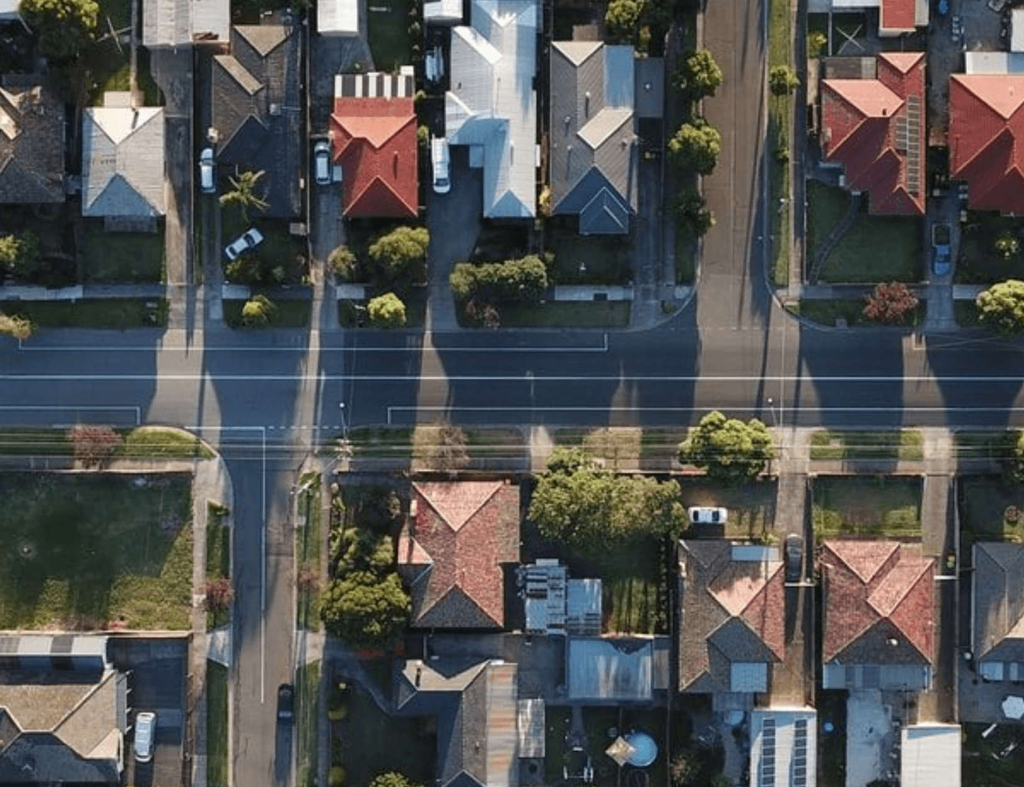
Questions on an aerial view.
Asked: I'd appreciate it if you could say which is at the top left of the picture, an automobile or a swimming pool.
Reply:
automobile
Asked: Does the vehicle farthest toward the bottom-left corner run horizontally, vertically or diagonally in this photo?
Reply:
vertically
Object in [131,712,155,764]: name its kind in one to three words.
vehicle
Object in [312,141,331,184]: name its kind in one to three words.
car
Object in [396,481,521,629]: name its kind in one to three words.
house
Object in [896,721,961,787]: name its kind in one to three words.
building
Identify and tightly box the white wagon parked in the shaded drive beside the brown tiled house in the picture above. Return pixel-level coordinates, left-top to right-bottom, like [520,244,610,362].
[196,147,215,190]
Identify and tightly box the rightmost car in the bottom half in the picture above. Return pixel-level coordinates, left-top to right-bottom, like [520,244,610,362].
[785,536,805,583]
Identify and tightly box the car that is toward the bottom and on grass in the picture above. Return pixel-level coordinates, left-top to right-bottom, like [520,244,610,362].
[689,507,728,525]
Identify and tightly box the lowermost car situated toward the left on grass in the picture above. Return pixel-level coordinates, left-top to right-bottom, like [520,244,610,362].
[224,226,264,259]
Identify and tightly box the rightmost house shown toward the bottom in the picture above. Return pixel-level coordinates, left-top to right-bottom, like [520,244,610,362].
[967,541,1024,679]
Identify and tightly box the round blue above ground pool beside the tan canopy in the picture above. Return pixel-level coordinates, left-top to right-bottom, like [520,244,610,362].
[627,732,660,769]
